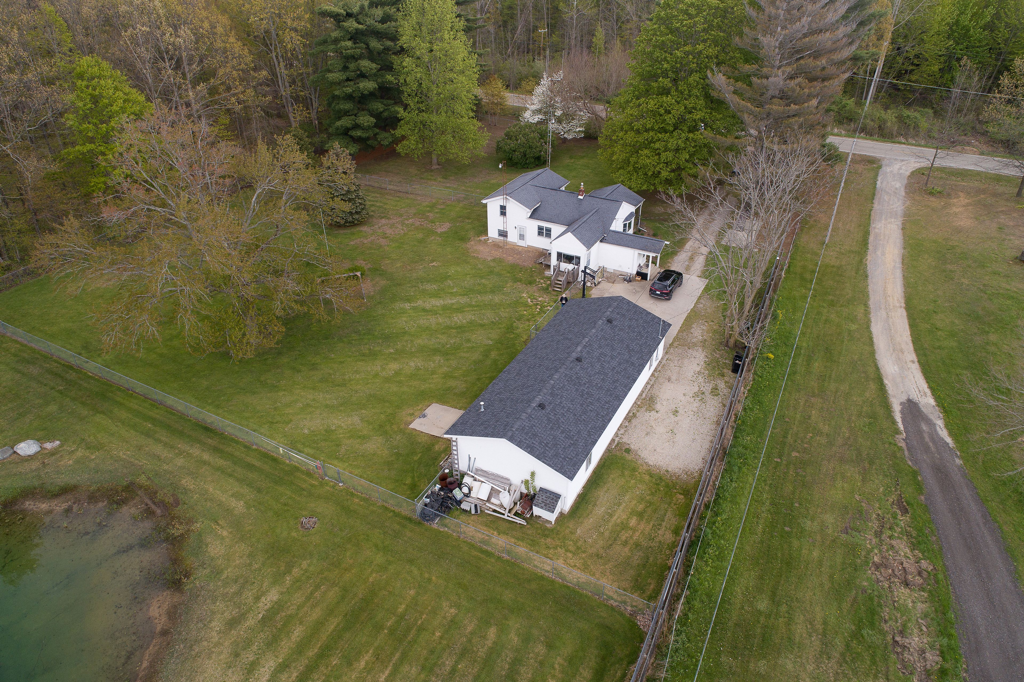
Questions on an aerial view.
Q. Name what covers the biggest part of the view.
grass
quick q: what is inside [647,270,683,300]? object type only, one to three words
car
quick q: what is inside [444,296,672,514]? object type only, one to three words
building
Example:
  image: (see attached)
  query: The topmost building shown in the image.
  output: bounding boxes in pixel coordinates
[476,167,672,281]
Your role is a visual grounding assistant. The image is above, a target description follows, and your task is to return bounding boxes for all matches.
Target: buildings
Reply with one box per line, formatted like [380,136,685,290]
[476,167,672,281]
[444,296,672,514]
